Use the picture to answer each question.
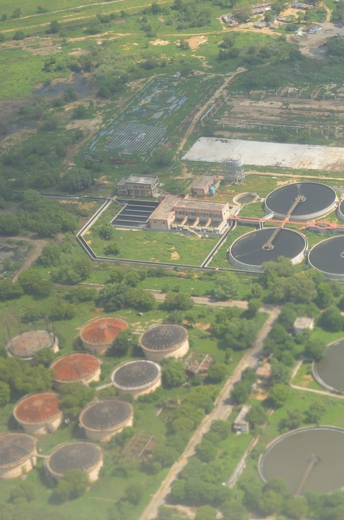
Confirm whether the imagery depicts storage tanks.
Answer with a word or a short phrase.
Yes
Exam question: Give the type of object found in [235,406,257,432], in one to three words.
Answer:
shed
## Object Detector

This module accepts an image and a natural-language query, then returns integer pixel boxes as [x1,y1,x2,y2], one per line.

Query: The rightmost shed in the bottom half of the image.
[294,317,316,335]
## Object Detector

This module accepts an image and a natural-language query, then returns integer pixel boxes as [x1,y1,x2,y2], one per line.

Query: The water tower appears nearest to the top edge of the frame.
[220,153,245,187]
